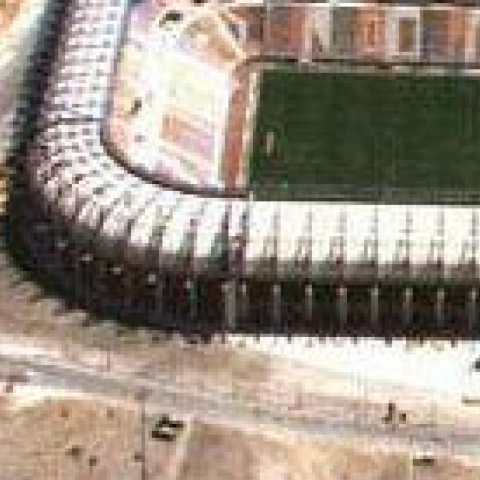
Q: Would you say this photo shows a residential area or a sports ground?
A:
sports ground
